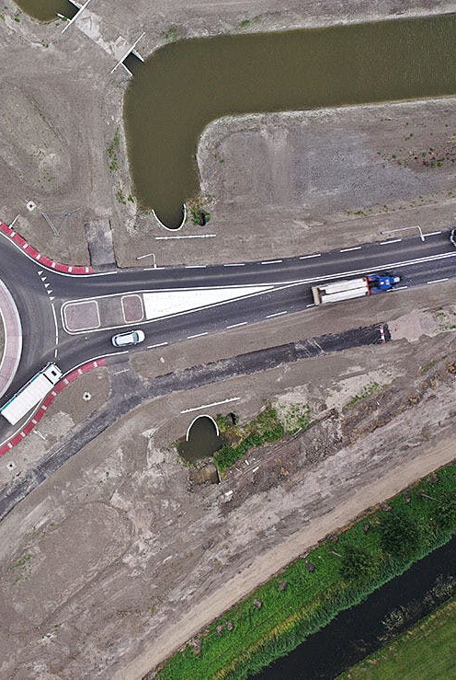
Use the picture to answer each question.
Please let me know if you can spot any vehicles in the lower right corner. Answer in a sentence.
No, looking in the lower right corner, there is no vehicle.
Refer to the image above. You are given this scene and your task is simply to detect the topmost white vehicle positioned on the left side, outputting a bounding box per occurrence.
[111,328,143,346]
